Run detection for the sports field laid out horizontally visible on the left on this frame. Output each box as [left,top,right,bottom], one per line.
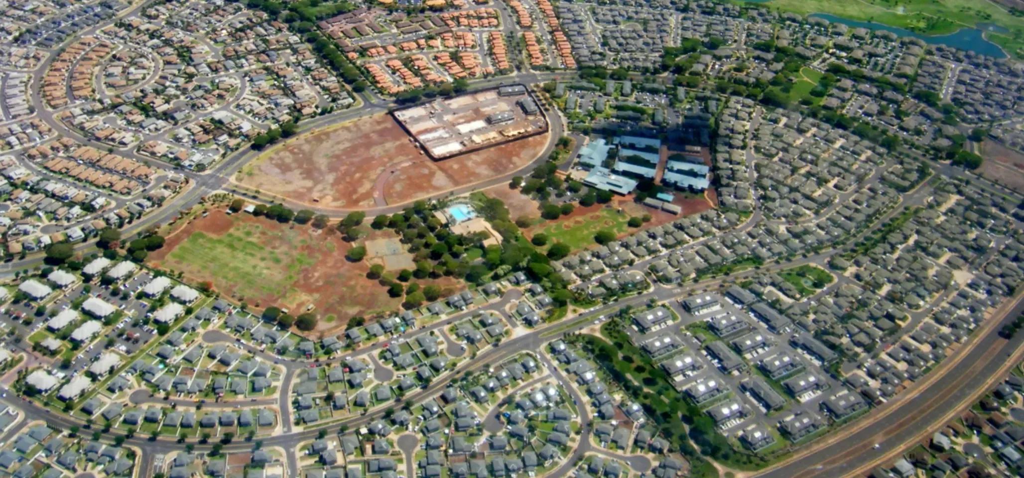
[145,203,462,337]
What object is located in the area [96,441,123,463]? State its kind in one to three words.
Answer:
house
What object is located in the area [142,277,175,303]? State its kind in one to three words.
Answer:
building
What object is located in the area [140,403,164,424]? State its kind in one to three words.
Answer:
house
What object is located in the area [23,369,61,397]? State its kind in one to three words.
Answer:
building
